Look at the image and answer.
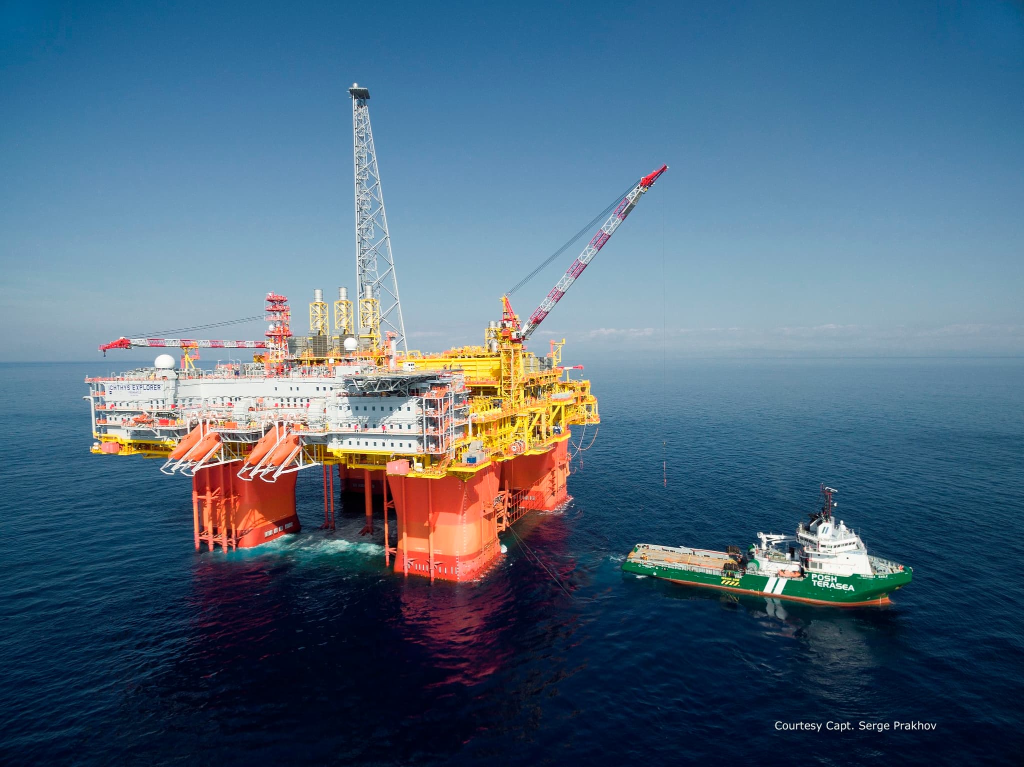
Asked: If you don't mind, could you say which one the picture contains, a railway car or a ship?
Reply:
ship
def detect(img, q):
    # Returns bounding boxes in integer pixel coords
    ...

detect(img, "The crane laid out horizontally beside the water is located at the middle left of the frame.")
[95,309,285,367]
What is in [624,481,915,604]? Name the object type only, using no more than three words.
ship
